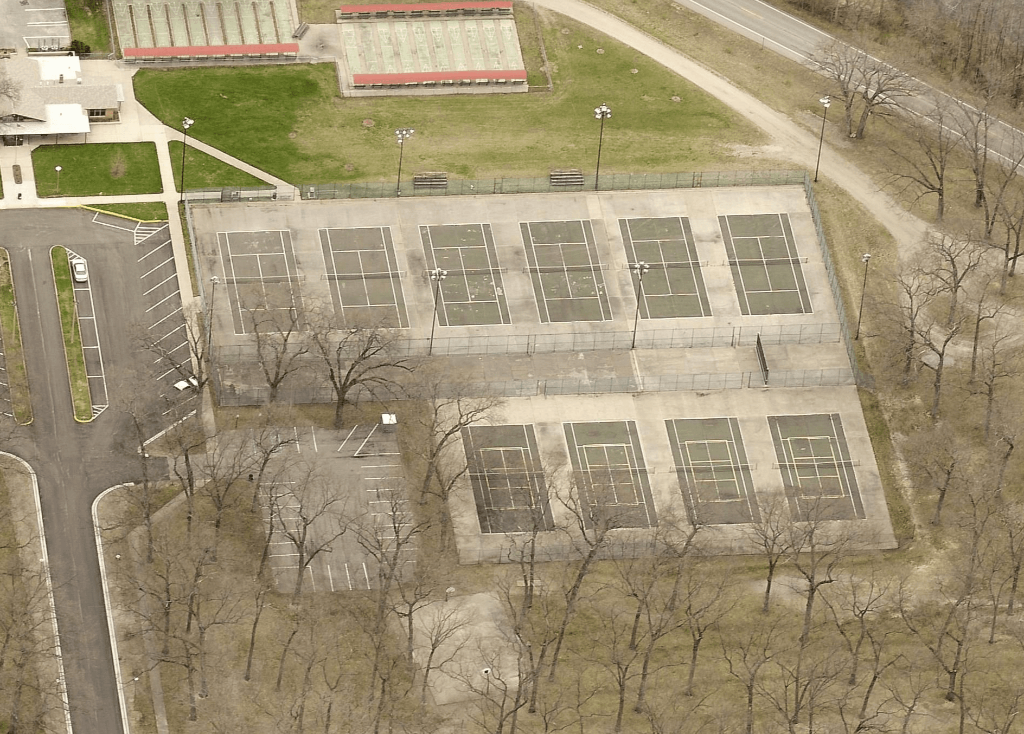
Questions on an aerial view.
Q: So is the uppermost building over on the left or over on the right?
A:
left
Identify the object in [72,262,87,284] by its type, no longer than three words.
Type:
car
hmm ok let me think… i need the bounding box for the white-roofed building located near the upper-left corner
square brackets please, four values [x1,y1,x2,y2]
[0,43,125,148]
